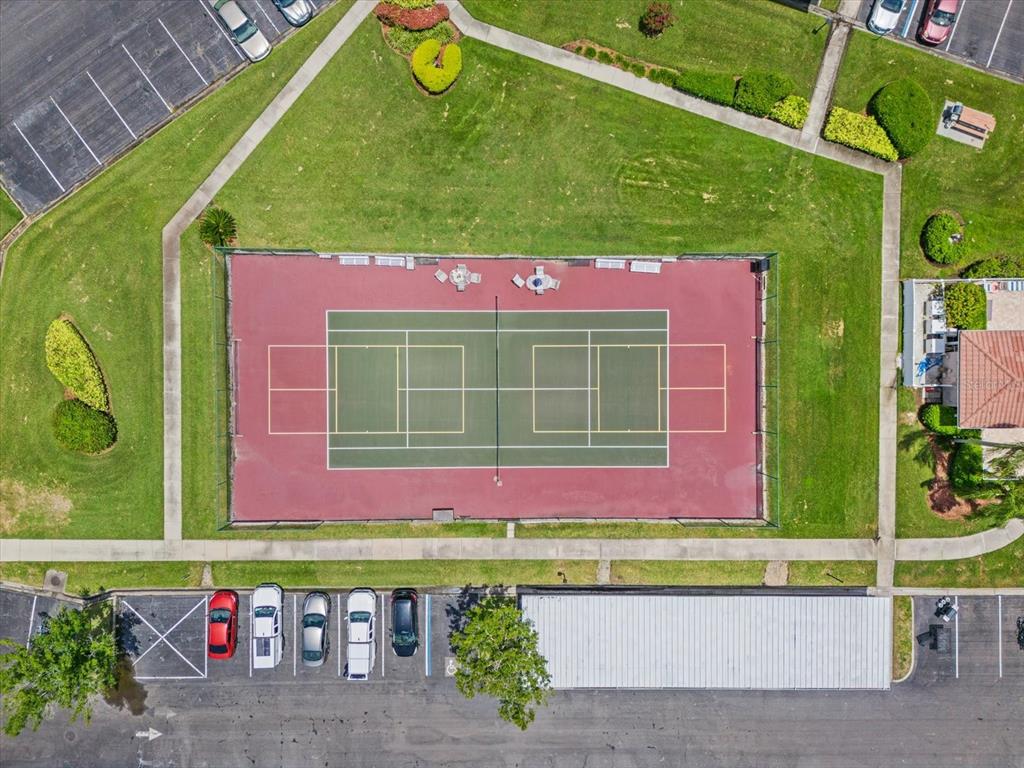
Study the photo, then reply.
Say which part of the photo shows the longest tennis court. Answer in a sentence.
The longest tennis court is located in the center region of the scene.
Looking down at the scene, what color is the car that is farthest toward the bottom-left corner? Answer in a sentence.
The color of the car that is farthest toward the bottom-left corner is red.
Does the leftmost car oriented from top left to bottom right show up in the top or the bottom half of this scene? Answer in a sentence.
The top half of the photo is where the leftmost car oriented from top left to bottom right is.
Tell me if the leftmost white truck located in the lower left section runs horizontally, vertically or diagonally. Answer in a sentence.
The leftmost white truck located in the lower left section is laid out vertically.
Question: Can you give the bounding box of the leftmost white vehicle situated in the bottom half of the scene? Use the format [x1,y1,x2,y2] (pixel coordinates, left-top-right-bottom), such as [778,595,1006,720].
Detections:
[248,584,287,670]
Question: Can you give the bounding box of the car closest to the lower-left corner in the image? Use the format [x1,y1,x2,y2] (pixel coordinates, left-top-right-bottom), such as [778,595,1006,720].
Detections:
[205,590,239,659]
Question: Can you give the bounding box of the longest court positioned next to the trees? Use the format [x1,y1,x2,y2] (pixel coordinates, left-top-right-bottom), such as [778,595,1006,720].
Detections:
[227,252,768,525]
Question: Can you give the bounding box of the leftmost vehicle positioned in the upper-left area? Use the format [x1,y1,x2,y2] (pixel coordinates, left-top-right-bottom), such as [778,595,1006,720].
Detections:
[209,0,269,62]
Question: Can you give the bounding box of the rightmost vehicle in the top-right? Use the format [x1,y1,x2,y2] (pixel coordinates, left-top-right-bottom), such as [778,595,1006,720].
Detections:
[919,0,963,48]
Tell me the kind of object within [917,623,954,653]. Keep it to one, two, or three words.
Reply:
trailer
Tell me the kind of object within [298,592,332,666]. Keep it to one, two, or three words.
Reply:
car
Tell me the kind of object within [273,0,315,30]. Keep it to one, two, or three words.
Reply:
car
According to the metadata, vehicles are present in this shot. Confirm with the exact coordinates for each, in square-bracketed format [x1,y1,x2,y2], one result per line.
[342,588,379,679]
[273,0,315,30]
[936,595,960,621]
[866,0,905,35]
[388,588,421,655]
[209,0,269,62]
[919,0,963,48]
[298,592,332,666]
[248,584,287,670]
[205,590,239,659]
